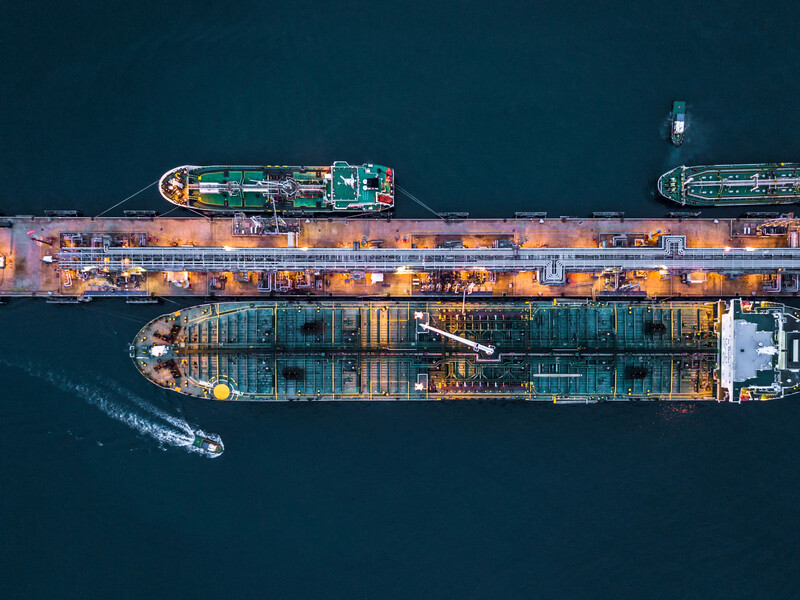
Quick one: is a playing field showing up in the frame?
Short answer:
No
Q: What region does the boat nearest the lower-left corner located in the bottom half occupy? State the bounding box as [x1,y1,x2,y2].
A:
[193,437,225,453]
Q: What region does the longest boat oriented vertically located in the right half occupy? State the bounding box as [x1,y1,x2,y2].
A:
[670,101,686,147]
